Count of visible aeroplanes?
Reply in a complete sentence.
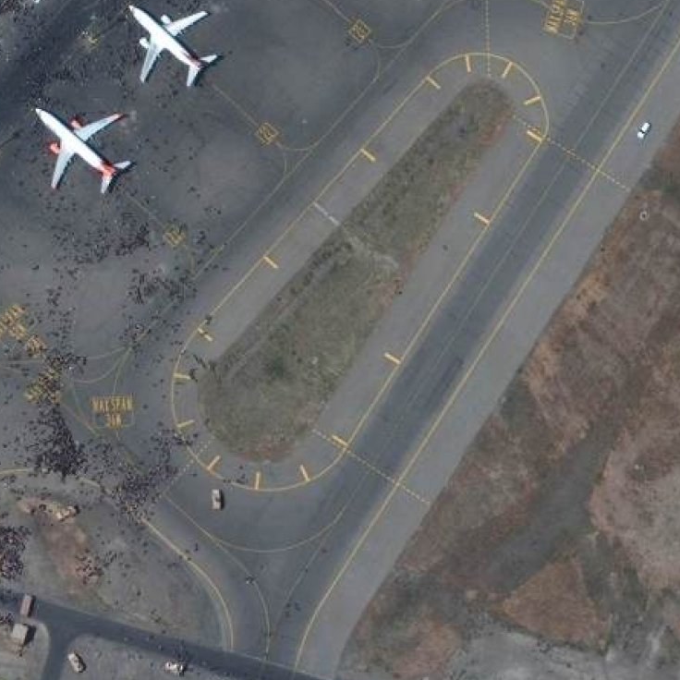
Altogether the scene contains 2 aeroplanes.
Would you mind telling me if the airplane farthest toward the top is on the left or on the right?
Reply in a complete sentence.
The airplane farthest toward the top sits on the left side.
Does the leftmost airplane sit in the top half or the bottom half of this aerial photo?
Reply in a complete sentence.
The leftmost airplane is in the top half of the image.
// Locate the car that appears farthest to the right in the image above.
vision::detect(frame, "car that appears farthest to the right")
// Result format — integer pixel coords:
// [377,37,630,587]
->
[637,121,650,138]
